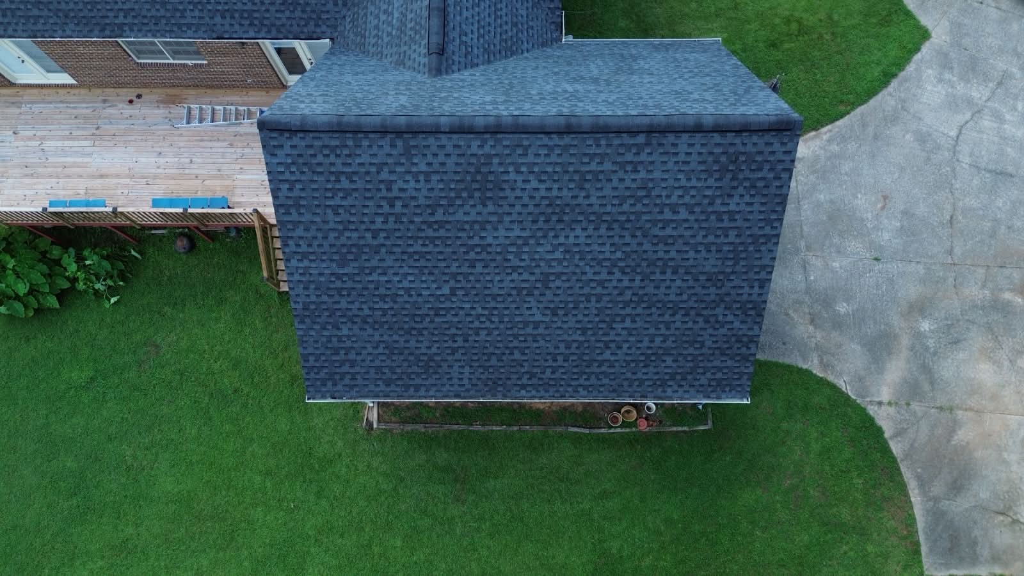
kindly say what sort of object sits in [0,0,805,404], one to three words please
house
